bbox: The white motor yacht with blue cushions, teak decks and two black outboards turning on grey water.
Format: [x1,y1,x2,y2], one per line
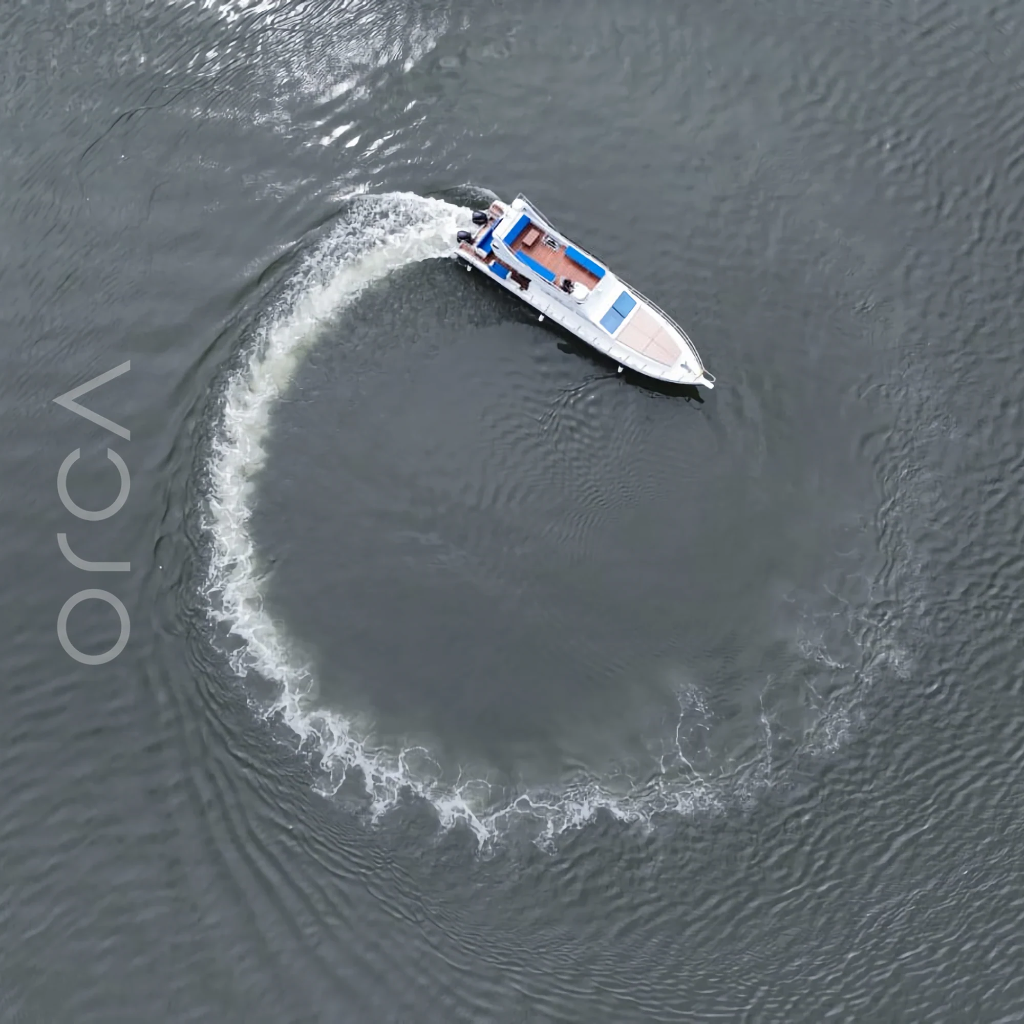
[455,191,720,389]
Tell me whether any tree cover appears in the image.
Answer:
No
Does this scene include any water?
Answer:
Yes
